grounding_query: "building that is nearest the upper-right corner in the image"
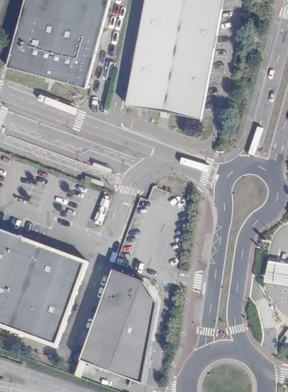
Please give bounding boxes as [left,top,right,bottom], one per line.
[124,0,226,122]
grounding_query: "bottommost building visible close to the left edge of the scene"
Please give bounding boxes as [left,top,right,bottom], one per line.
[0,228,92,346]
